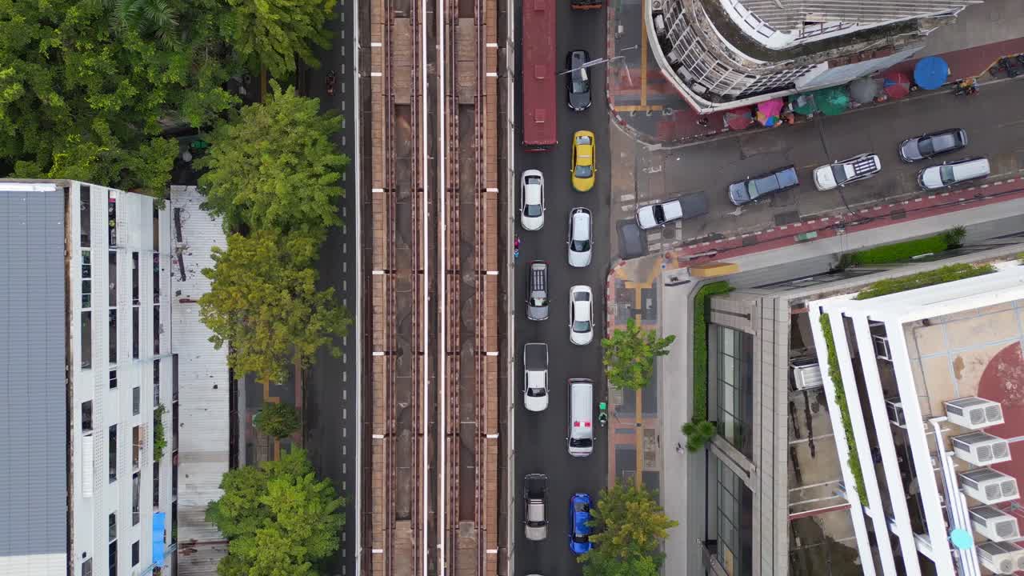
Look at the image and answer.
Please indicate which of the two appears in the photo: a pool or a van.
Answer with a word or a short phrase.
van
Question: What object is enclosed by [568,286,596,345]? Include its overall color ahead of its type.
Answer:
white car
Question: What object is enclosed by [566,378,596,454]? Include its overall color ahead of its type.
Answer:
white van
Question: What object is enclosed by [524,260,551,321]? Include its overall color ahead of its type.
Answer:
gray truck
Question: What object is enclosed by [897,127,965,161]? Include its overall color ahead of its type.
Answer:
gray car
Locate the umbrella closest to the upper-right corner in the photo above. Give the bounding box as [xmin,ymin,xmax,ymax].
[909,56,946,93]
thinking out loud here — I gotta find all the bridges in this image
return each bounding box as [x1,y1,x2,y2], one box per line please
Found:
[354,0,513,576]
